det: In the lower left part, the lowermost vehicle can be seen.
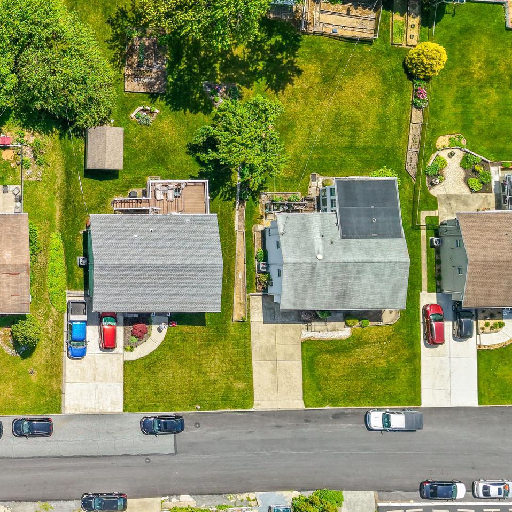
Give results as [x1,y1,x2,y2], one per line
[80,491,127,512]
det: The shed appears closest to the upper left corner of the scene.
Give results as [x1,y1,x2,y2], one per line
[84,125,123,170]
